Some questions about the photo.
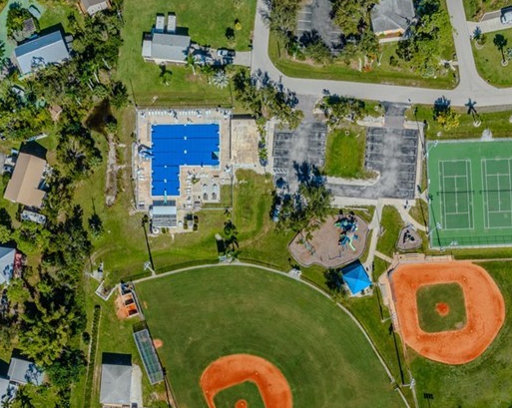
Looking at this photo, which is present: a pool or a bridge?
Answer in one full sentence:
The image shows a pool.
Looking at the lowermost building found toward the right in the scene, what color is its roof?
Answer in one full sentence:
The color of the roof on the lowermost building found toward the right is blue.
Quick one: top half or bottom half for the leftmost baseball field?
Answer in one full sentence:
Seen from above, the leftmost baseball field lies in the bottom half of the view.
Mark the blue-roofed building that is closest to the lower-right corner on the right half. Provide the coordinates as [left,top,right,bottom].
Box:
[341,261,372,296]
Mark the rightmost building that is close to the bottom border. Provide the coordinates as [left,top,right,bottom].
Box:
[100,364,132,405]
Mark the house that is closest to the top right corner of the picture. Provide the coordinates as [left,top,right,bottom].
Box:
[371,0,415,36]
